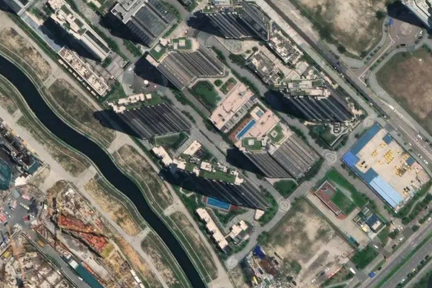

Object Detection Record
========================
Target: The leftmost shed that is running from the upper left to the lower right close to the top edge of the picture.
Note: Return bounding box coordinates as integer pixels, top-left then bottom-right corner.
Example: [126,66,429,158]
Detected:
[18,12,64,56]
